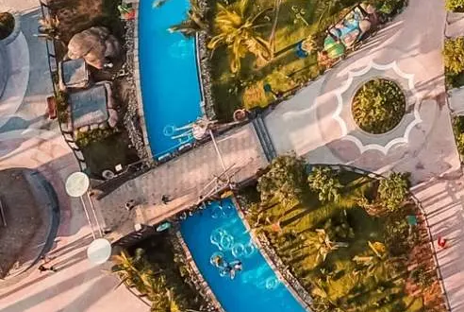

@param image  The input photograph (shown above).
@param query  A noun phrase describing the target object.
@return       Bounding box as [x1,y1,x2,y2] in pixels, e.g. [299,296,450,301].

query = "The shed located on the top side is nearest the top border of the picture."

[57,59,93,89]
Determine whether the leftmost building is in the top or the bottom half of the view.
bottom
